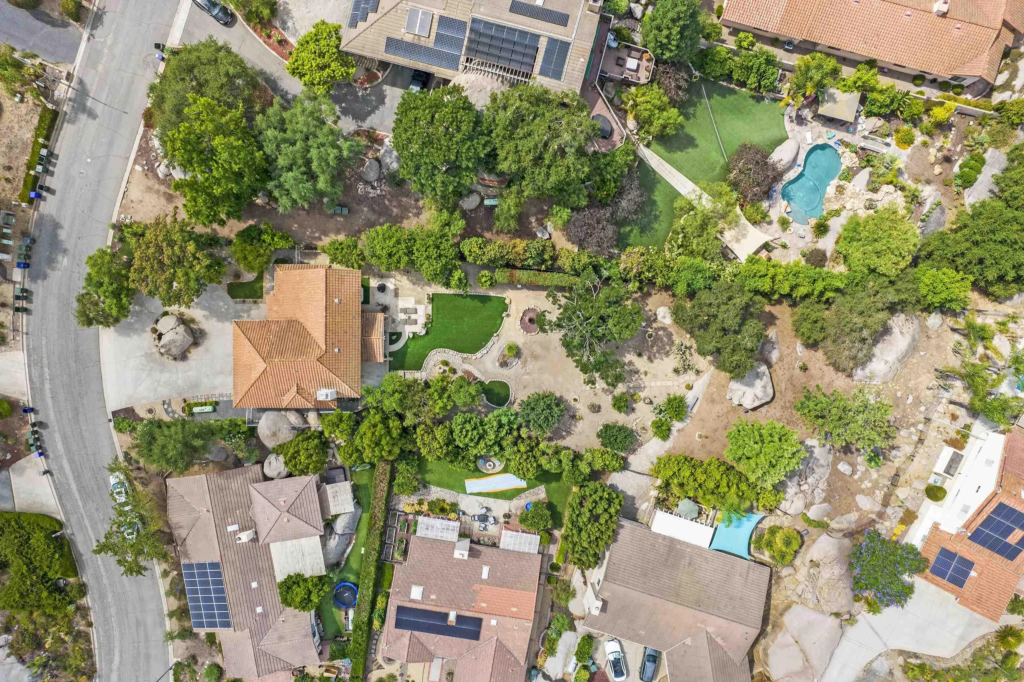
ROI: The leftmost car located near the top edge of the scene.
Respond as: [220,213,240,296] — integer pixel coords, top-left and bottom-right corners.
[193,0,236,28]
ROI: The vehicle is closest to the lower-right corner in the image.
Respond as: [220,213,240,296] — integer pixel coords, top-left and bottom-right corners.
[637,646,662,682]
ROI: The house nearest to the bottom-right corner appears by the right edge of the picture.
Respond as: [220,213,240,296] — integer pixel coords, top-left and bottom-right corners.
[904,402,1024,623]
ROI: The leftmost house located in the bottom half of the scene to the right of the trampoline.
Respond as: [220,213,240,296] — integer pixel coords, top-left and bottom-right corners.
[382,535,542,682]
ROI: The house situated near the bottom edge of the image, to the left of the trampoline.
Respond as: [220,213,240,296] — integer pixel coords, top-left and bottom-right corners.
[167,463,331,682]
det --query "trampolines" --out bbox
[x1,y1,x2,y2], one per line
[329,580,359,614]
